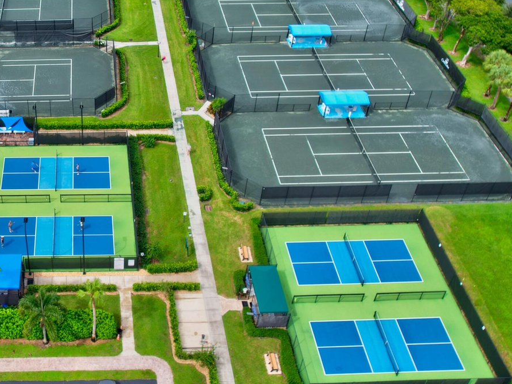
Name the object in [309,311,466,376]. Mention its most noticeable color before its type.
blue sports court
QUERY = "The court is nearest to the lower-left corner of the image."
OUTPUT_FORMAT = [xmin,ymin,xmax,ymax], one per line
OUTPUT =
[0,209,114,258]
